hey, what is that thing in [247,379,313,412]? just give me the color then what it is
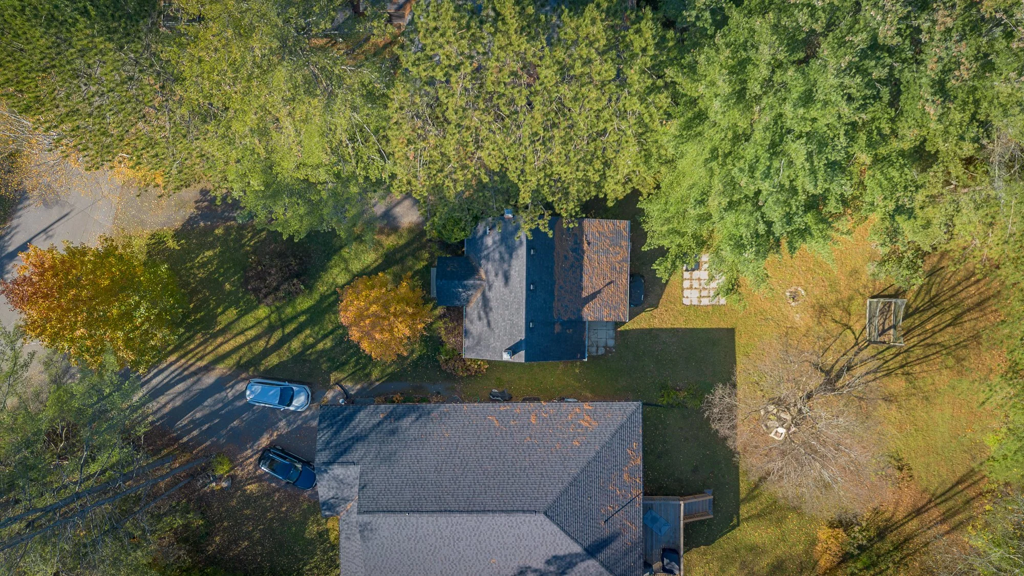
blue car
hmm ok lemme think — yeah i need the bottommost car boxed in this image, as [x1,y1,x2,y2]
[256,444,316,489]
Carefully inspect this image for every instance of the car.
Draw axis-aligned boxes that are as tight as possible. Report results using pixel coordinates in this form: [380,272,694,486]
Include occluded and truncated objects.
[247,379,313,412]
[256,444,316,489]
